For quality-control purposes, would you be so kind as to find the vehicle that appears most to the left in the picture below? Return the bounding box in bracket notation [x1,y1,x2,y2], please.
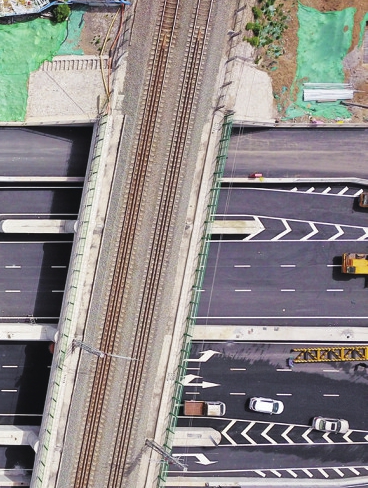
[184,400,226,419]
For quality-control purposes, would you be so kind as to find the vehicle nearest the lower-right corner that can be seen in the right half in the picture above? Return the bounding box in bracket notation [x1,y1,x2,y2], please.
[310,415,349,433]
